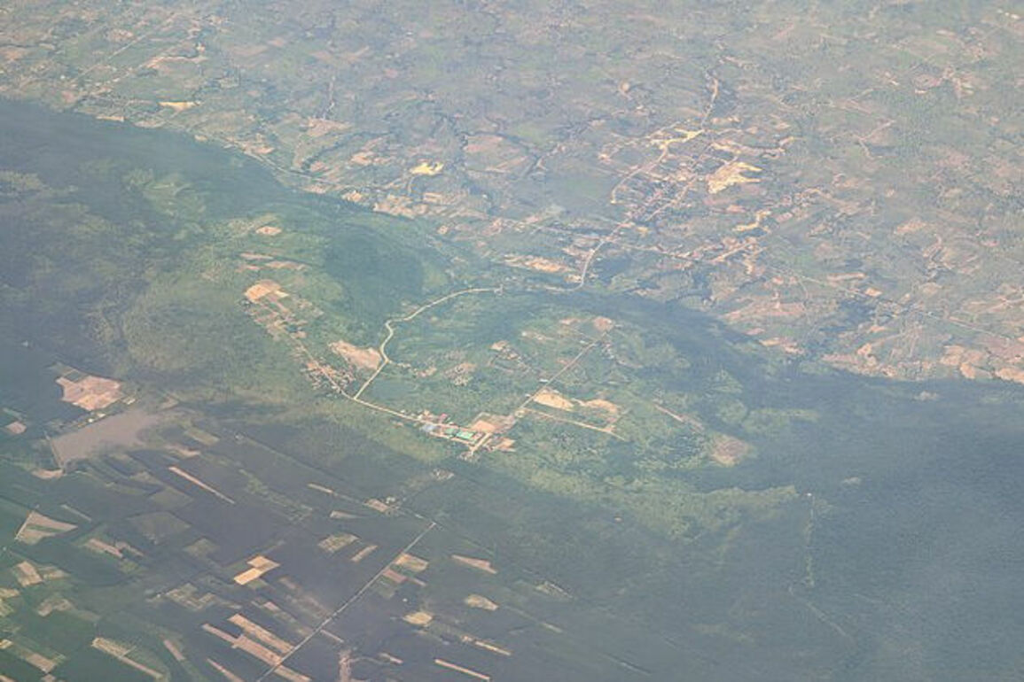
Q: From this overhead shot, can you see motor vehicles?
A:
No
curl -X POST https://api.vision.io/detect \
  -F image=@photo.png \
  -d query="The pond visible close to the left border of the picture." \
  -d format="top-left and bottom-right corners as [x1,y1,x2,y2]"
[50,409,161,469]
